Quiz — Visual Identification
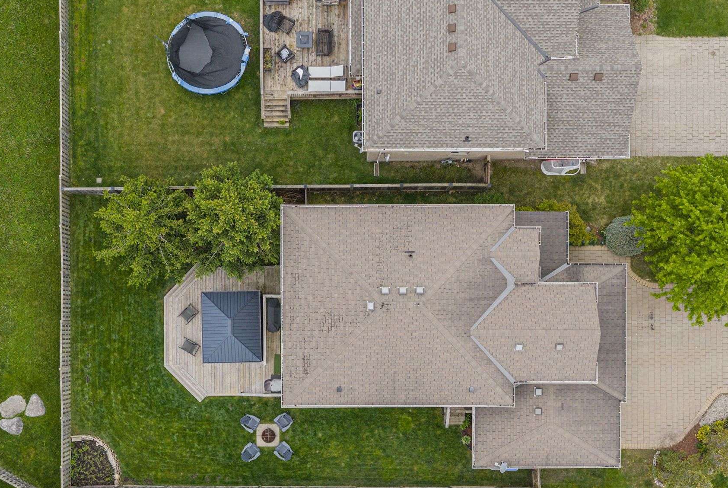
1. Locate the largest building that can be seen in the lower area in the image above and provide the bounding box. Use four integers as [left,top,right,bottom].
[281,204,626,468]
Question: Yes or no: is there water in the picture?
No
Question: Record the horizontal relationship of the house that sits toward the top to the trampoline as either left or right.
on the right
